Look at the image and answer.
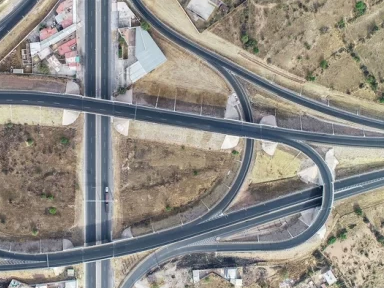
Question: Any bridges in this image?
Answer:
Yes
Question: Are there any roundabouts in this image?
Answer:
No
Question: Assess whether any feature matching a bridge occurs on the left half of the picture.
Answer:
Yes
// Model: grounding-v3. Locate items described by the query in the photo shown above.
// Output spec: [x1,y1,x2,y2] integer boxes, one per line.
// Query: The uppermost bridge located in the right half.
[222,94,277,155]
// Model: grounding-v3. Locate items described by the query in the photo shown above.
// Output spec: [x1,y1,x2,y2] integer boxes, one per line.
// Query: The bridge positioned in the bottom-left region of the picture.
[53,228,132,276]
